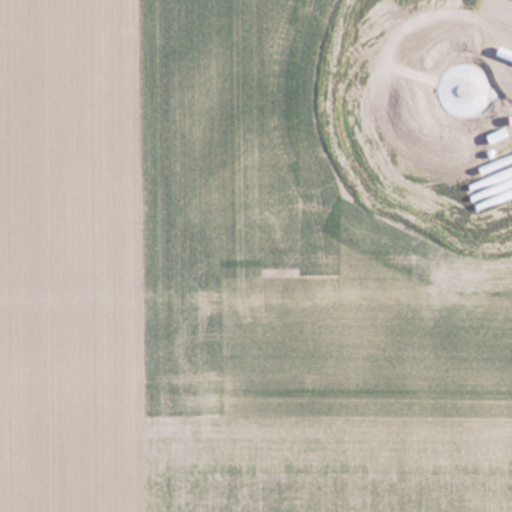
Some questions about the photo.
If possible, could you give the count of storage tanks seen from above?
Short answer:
1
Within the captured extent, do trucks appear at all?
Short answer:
No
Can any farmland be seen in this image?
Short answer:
Yes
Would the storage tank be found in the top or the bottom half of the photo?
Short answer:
top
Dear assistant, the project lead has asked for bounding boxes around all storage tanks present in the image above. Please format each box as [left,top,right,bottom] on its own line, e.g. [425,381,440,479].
[438,64,498,118]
